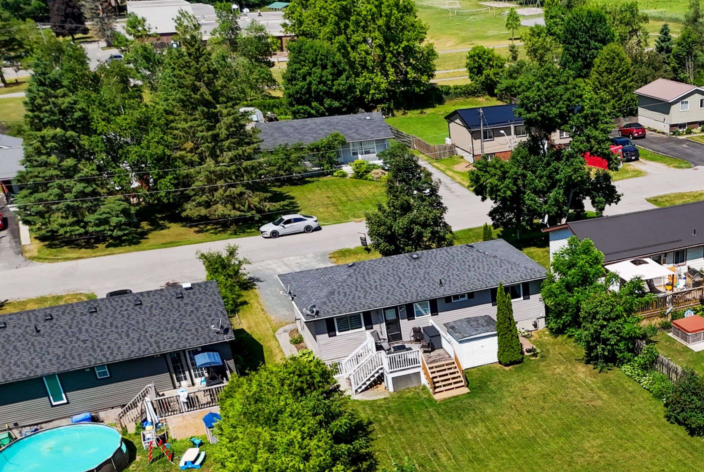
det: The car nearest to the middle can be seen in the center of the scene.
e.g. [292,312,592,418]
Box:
[258,213,322,242]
